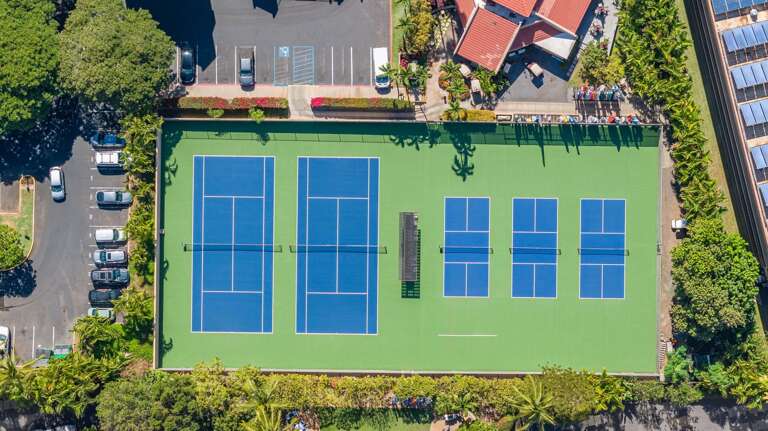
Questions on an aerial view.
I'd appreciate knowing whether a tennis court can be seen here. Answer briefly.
Yes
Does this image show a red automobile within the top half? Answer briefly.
No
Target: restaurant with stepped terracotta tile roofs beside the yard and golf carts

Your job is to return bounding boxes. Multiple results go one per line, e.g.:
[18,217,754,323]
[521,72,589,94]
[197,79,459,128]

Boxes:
[454,0,595,76]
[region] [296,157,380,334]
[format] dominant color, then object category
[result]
blue tennis court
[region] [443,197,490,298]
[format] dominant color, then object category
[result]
blue sports court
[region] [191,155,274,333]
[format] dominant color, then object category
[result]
blue tennis court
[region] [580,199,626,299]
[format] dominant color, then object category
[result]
blue sports court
